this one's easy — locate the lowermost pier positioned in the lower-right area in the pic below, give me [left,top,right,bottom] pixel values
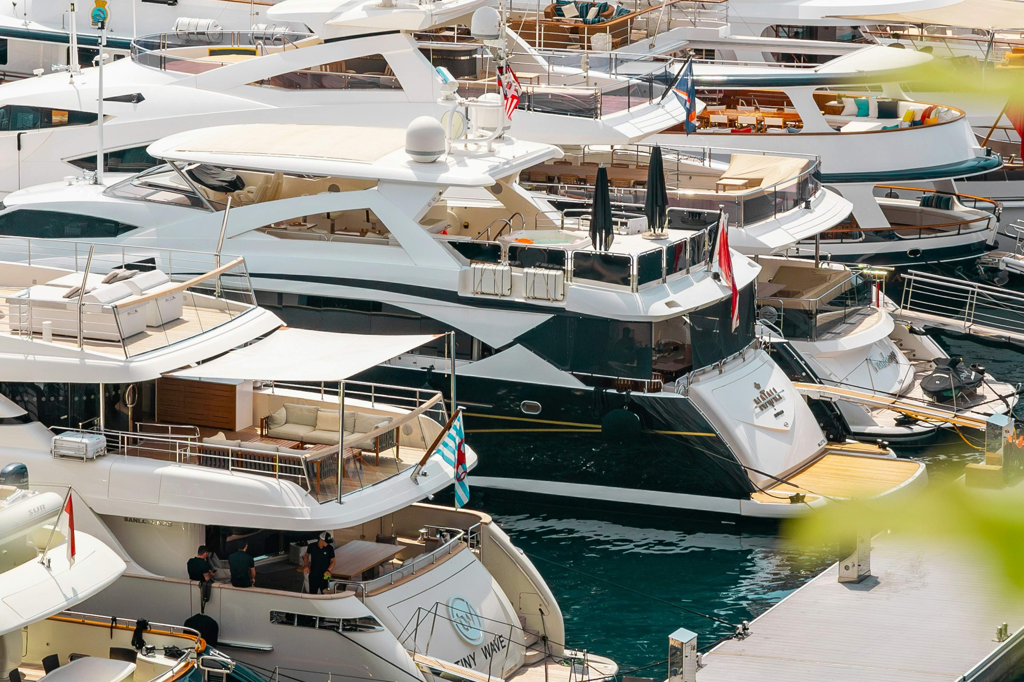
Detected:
[696,408,1024,682]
